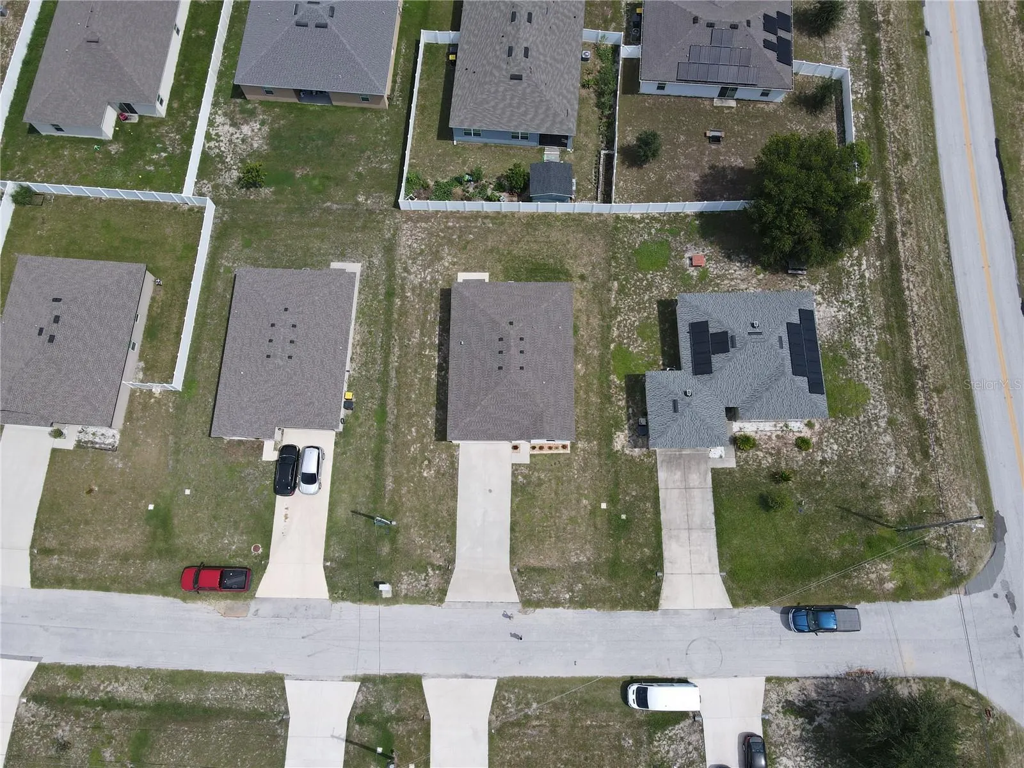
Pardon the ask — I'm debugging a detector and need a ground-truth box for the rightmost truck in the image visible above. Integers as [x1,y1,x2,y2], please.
[785,605,865,636]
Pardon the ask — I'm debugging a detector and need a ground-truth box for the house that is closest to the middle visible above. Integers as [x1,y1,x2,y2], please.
[446,282,578,445]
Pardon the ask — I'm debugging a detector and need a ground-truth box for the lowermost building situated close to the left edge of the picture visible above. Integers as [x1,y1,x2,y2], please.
[0,255,152,427]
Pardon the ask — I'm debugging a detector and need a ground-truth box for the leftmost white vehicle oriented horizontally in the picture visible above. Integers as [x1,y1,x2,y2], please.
[625,680,704,714]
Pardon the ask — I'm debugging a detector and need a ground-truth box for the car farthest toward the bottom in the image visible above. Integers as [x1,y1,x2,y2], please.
[741,734,768,768]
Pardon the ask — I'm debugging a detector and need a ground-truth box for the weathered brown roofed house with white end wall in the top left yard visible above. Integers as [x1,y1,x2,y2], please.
[21,0,193,139]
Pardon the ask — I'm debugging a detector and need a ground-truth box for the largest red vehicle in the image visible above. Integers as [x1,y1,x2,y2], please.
[179,564,254,594]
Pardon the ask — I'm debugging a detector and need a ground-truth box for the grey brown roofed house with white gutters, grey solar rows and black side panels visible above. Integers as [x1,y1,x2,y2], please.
[639,0,794,104]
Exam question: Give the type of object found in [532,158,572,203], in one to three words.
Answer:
shed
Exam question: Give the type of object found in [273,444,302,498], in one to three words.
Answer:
car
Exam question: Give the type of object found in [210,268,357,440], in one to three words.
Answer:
house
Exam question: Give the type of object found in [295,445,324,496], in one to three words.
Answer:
car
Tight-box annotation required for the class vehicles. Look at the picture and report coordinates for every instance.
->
[625,680,704,714]
[273,444,302,498]
[179,564,254,594]
[741,734,768,768]
[785,605,865,636]
[295,445,324,496]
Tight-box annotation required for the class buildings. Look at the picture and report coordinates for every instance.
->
[0,255,152,427]
[643,292,830,448]
[235,0,403,108]
[449,0,583,147]
[210,268,357,440]
[639,0,794,104]
[532,158,572,203]
[446,282,578,445]
[21,0,193,139]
